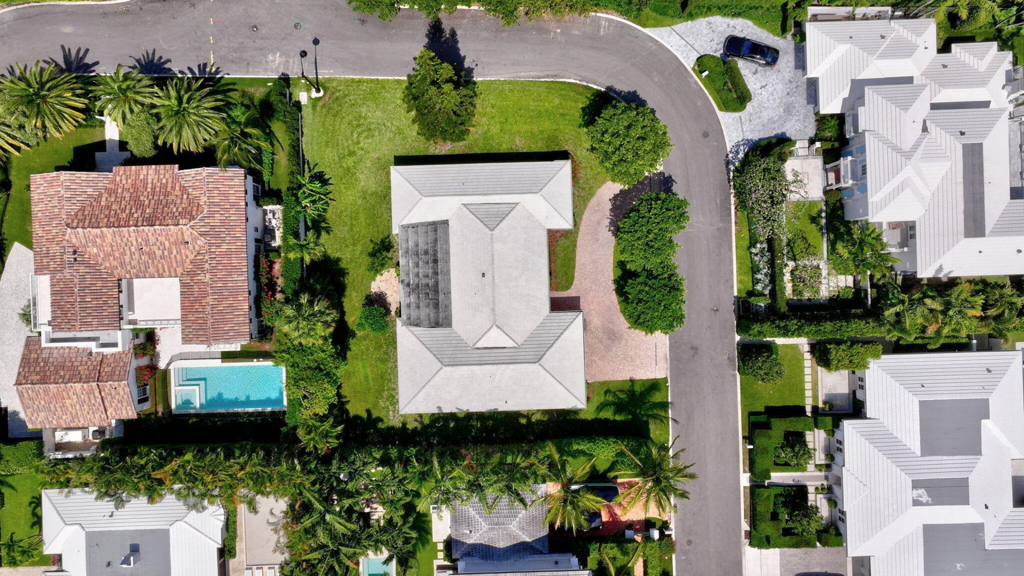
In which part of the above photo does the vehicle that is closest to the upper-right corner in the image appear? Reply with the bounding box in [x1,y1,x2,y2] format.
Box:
[728,33,783,65]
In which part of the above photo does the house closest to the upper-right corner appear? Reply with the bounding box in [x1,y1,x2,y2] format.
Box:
[804,19,1024,277]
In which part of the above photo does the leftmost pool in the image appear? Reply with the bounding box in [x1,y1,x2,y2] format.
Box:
[170,359,287,414]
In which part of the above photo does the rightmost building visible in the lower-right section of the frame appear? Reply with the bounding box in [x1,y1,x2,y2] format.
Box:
[833,351,1024,576]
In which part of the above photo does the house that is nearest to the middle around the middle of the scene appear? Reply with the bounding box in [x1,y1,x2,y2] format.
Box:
[390,160,587,414]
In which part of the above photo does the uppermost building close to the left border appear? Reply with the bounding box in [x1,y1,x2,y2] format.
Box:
[30,164,267,352]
